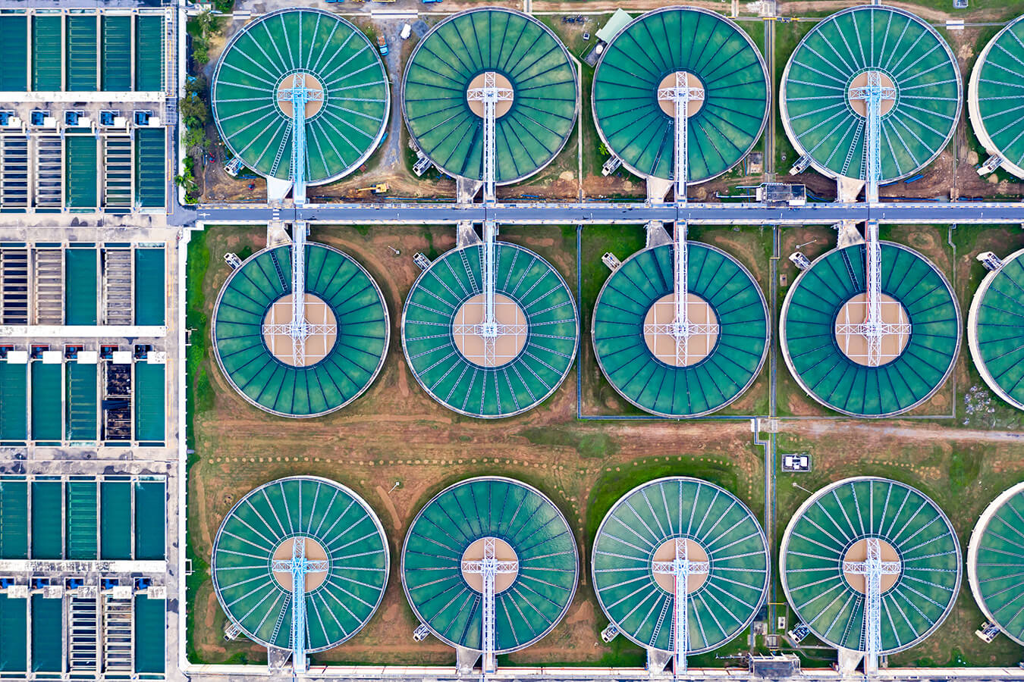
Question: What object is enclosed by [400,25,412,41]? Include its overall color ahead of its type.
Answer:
white vehicle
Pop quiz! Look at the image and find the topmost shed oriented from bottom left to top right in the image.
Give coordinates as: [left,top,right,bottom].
[594,8,631,45]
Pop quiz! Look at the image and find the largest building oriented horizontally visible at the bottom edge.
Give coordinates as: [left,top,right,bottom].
[747,653,800,677]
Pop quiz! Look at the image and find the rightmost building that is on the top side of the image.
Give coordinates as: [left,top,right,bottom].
[756,184,806,206]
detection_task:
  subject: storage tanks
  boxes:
[969,248,1024,411]
[591,5,771,187]
[211,240,392,419]
[211,5,392,187]
[969,16,1024,180]
[780,240,963,419]
[779,5,963,187]
[401,474,580,656]
[969,481,1024,645]
[401,5,580,187]
[591,474,771,656]
[401,240,580,419]
[211,474,392,656]
[591,240,771,419]
[780,474,963,656]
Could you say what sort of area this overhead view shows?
industrial area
